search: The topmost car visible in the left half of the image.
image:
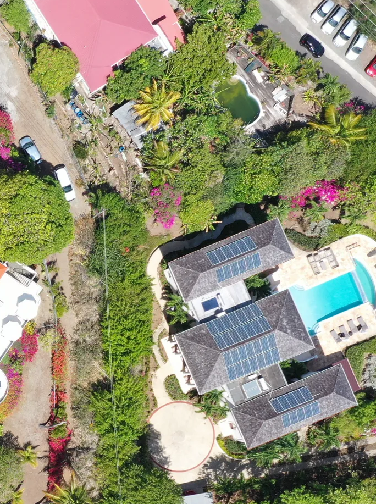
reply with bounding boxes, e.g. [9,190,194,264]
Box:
[20,134,43,164]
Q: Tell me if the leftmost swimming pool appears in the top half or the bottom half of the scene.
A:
top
